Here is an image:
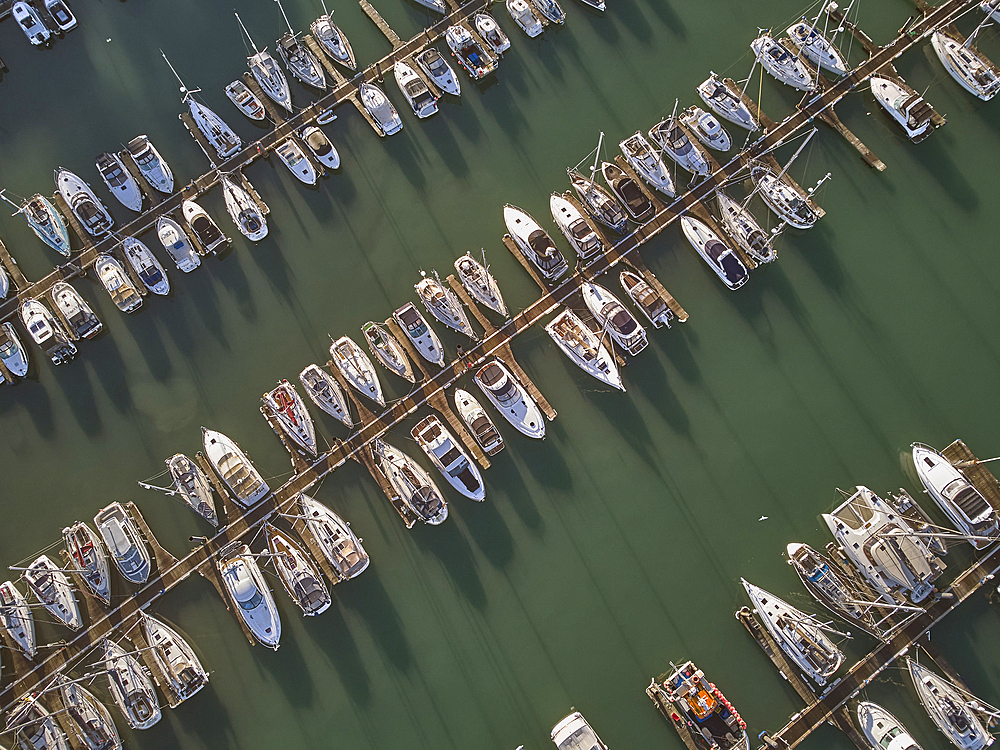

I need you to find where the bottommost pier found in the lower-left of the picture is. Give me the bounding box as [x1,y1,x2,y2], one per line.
[40,688,84,750]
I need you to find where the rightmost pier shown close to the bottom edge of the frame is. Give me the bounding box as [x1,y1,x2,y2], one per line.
[909,643,1000,732]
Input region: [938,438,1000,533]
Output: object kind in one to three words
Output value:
pier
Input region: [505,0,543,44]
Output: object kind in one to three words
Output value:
boat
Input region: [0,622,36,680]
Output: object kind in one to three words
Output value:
pier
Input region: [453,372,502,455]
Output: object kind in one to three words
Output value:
boat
